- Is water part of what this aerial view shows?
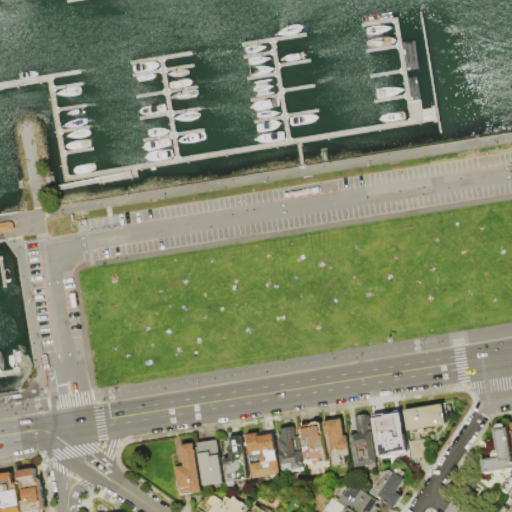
Yes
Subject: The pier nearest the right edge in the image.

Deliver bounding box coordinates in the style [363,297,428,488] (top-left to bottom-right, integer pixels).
[420,8,442,134]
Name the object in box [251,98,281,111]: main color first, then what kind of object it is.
white boat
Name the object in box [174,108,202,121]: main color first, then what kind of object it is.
white boat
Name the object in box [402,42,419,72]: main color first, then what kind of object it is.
gray ship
